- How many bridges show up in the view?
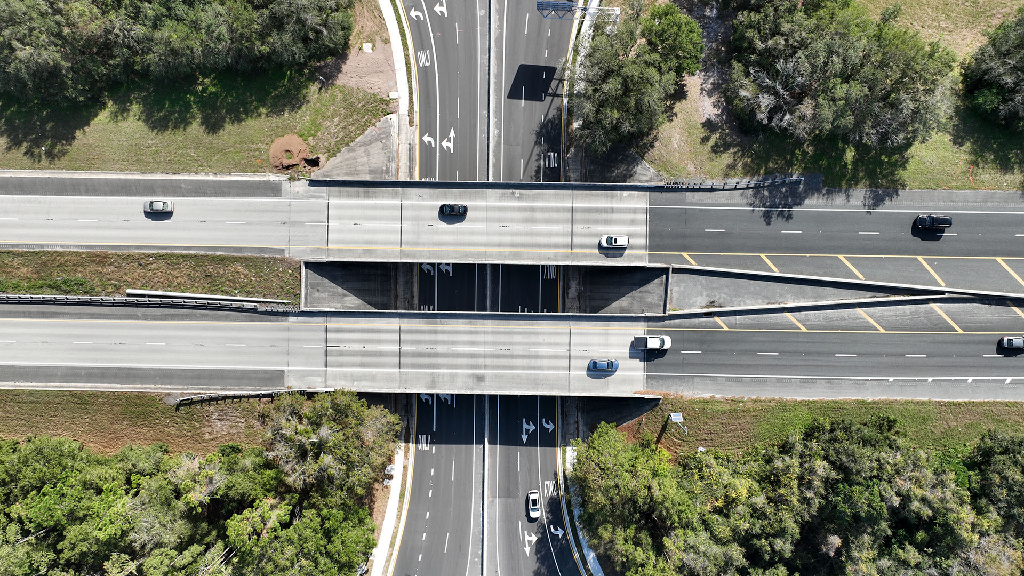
2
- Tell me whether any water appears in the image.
No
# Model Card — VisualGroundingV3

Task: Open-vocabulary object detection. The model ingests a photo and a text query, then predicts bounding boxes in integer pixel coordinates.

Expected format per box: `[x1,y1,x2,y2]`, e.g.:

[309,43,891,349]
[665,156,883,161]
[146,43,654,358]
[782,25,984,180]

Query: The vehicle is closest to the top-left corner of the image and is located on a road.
[145,199,176,213]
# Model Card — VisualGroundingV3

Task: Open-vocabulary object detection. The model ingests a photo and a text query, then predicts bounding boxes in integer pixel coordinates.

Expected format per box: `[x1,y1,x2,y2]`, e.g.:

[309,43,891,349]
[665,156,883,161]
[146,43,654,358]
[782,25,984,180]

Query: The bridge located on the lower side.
[301,311,669,397]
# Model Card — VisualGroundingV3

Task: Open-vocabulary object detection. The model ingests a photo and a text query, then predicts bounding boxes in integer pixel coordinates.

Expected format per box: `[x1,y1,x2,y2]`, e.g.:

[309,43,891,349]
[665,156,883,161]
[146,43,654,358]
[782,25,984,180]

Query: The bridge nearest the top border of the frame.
[302,181,666,267]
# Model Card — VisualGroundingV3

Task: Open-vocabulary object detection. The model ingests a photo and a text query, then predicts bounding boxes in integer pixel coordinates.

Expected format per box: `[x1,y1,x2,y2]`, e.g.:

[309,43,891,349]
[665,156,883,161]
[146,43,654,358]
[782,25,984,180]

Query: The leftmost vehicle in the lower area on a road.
[528,489,541,518]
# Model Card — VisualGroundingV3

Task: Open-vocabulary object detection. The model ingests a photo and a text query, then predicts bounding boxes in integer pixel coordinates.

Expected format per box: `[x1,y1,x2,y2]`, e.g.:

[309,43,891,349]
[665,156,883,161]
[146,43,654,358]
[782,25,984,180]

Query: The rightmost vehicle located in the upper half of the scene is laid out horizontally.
[915,214,953,228]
